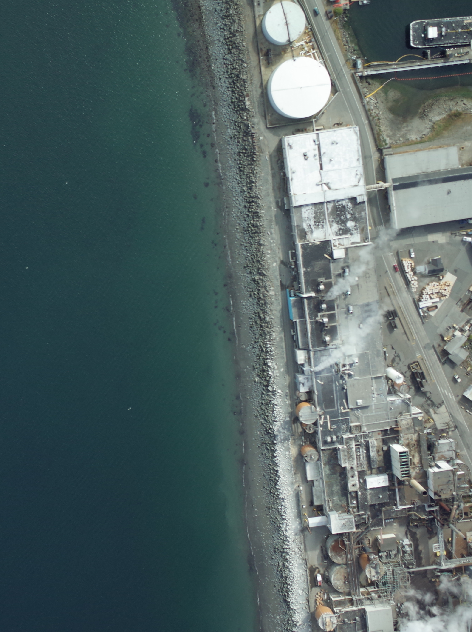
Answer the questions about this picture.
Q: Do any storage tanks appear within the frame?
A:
Yes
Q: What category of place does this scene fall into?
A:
port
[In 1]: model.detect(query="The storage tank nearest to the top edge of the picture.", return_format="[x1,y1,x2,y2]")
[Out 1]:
[261,1,306,45]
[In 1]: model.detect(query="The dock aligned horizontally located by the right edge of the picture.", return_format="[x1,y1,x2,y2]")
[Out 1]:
[361,40,472,71]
